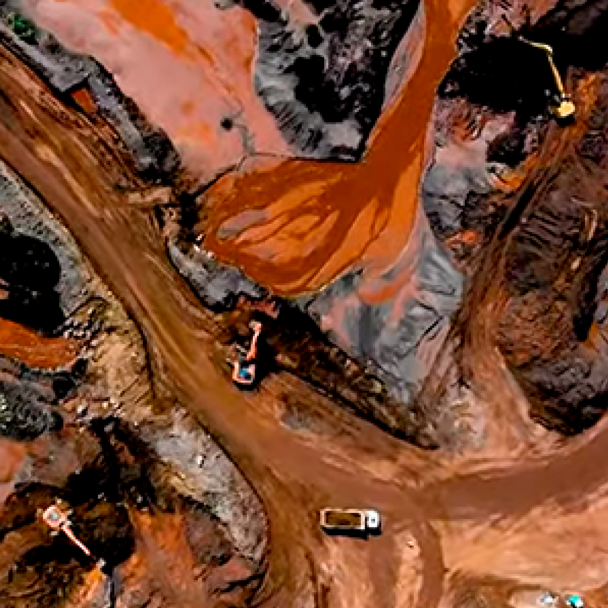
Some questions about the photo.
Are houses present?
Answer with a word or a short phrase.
No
